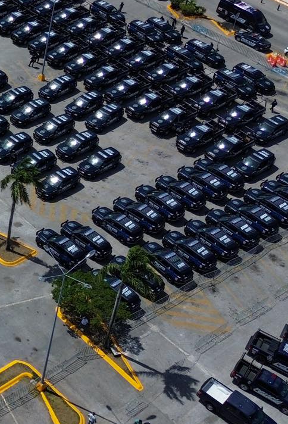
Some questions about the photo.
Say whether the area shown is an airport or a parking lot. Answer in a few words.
parking lot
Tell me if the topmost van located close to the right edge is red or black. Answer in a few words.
black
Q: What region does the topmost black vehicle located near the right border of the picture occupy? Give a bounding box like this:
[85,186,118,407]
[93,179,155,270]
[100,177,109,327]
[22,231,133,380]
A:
[214,6,276,46]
